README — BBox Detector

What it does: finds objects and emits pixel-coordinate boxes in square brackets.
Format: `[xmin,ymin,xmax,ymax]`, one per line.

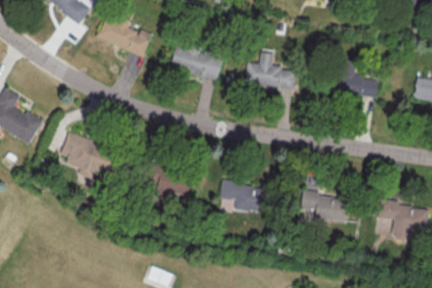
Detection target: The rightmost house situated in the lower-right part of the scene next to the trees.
[376,200,430,244]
